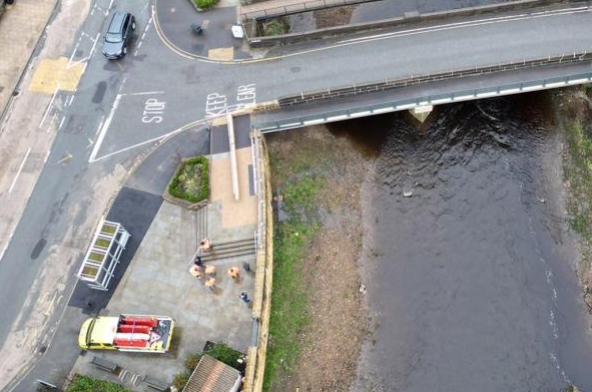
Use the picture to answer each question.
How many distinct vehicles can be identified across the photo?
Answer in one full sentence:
In total, 2 vehicles can be seen.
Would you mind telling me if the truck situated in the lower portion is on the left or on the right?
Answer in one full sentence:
It is on the left.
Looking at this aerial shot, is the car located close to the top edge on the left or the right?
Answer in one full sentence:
The car located close to the top edge is on the left side of the image.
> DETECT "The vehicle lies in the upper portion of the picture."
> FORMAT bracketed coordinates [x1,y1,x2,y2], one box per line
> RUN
[97,7,138,59]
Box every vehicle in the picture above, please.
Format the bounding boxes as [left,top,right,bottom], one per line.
[71,309,172,355]
[97,7,138,59]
